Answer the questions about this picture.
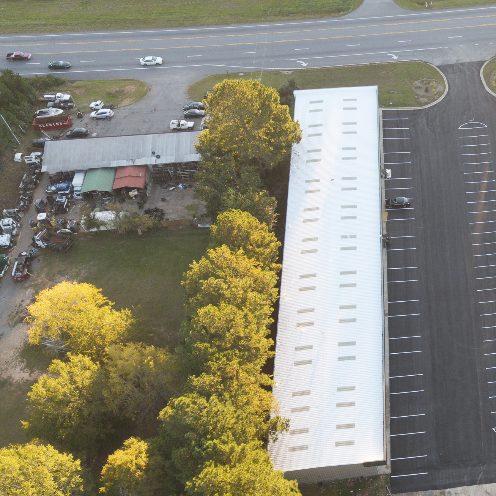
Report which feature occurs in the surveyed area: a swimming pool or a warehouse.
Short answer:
warehouse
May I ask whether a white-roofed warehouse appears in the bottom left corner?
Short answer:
No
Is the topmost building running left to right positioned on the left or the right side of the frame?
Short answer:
left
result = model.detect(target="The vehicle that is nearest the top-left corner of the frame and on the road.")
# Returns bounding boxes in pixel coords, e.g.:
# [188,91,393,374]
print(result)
[3,50,32,62]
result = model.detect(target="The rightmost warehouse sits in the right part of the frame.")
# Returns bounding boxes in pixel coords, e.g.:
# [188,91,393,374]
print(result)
[272,83,387,483]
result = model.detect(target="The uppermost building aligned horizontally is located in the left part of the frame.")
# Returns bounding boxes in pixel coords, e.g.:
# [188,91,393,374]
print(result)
[41,131,212,179]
